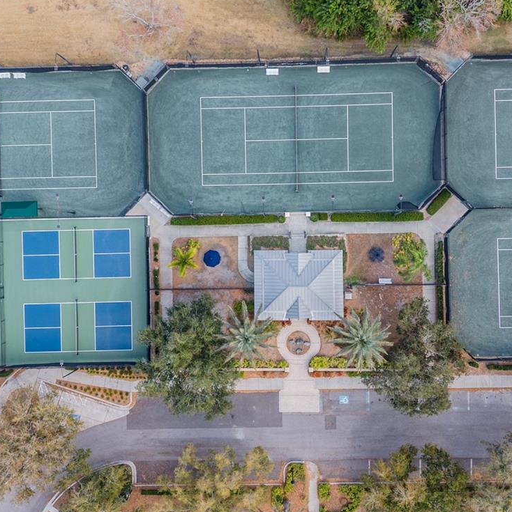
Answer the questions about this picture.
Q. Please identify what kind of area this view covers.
sports ground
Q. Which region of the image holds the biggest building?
center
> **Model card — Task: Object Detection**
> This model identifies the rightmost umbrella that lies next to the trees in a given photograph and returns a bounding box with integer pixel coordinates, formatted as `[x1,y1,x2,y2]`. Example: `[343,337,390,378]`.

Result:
[368,246,383,261]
